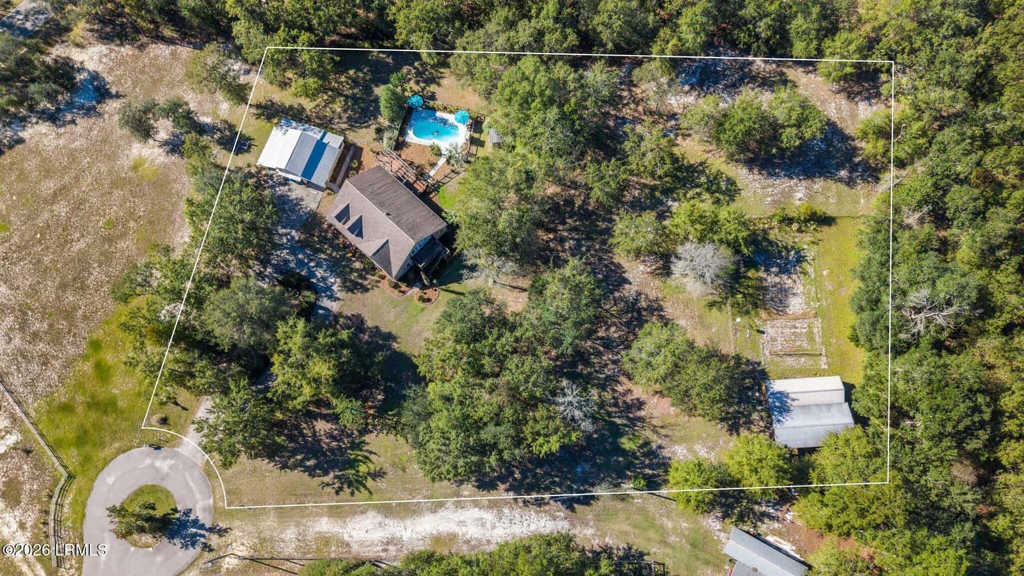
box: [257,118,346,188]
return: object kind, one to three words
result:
building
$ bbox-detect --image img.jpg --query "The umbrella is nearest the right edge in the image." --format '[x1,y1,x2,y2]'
[455,111,470,125]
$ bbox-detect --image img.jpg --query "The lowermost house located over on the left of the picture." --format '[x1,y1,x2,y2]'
[325,159,456,279]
